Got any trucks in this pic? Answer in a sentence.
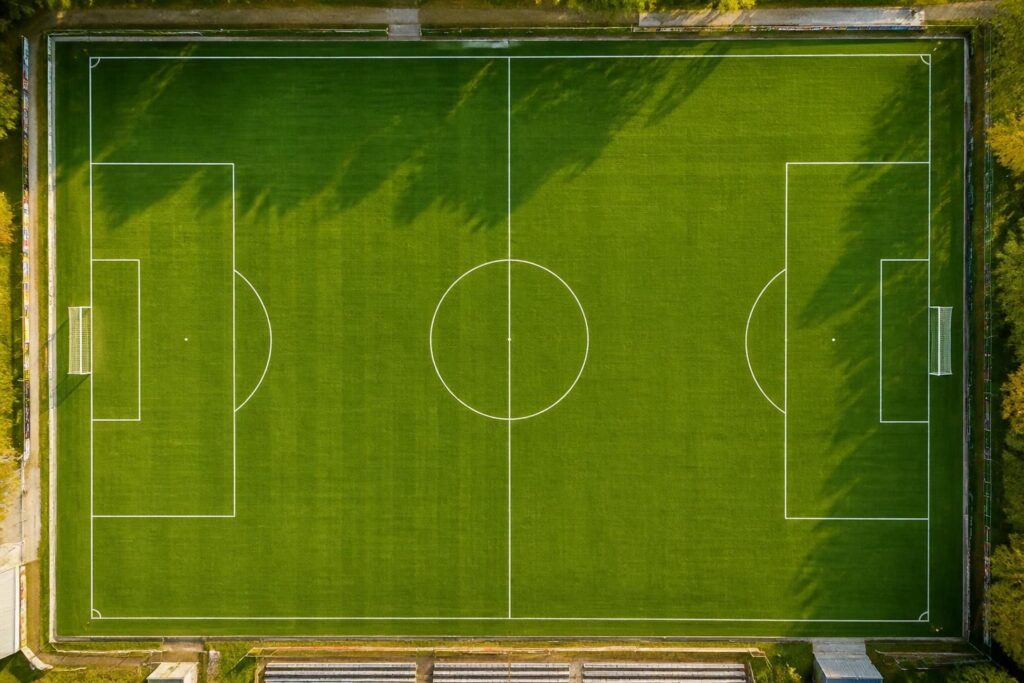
No, there is no truck in the image.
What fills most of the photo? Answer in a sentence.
The largest share of the image is taken up by grass.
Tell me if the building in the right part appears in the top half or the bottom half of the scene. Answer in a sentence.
You can find the building in the right part in the bottom half.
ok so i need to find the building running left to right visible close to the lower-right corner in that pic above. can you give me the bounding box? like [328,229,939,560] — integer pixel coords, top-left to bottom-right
[814,653,885,683]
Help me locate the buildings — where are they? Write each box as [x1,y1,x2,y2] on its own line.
[0,565,21,659]
[146,662,197,683]
[814,653,885,683]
